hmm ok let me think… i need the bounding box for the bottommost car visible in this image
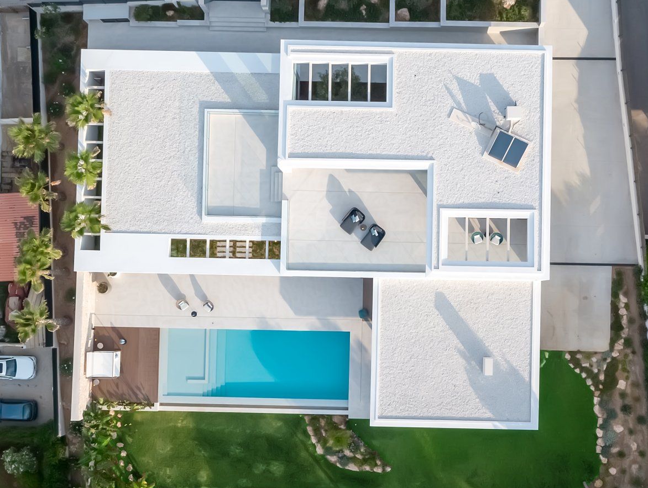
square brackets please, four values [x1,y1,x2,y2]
[0,397,39,424]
